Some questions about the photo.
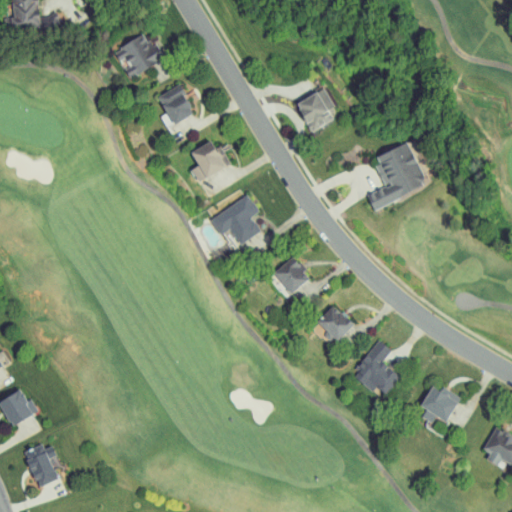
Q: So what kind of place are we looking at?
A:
golf course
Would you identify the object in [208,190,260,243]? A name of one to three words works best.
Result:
house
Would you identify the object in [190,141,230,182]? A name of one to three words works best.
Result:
house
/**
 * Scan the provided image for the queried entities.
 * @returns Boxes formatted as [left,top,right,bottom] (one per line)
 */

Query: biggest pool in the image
[202,224,220,248]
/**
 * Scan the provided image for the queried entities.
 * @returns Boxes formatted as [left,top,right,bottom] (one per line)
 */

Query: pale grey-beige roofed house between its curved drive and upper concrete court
[298,88,337,132]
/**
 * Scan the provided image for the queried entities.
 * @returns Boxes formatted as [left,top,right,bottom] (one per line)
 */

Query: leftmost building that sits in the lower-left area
[0,390,40,426]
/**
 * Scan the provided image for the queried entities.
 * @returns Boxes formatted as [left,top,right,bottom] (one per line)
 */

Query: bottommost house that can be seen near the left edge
[23,444,66,488]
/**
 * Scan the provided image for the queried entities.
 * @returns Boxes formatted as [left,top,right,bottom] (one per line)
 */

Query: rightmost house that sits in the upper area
[368,143,426,210]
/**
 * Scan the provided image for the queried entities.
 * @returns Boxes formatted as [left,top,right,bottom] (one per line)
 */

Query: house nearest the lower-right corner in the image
[484,426,512,471]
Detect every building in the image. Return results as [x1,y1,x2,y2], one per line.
[4,0,54,26]
[116,34,163,80]
[23,444,66,488]
[314,306,354,340]
[0,390,40,426]
[298,88,337,132]
[423,388,462,423]
[356,341,398,396]
[368,143,426,210]
[484,426,512,471]
[275,258,310,293]
[190,141,230,182]
[208,190,260,243]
